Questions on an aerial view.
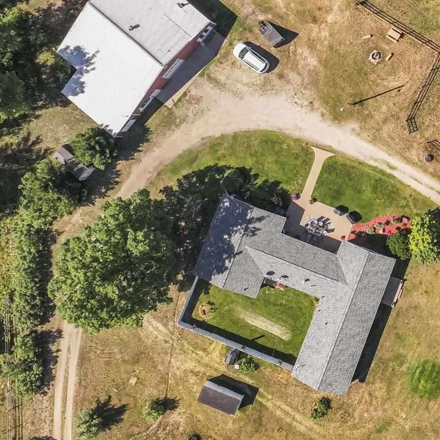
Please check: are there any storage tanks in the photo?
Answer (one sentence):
No, no storage tank is visible in the view.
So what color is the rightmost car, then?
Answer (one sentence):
The rightmost car is white.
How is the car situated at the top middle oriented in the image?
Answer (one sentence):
What the image shows is the car situated at the top middle lying on a diagonal.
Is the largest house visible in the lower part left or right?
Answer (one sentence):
You can find the largest house visible in the lower part on the right side of the picture.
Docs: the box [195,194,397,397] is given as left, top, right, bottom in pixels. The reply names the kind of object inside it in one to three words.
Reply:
house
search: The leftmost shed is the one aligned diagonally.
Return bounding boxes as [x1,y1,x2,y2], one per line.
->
[54,146,94,179]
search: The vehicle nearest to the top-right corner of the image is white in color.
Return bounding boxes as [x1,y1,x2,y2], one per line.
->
[231,46,267,76]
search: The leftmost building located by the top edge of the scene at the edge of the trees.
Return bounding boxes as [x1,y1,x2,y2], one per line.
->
[57,0,213,138]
